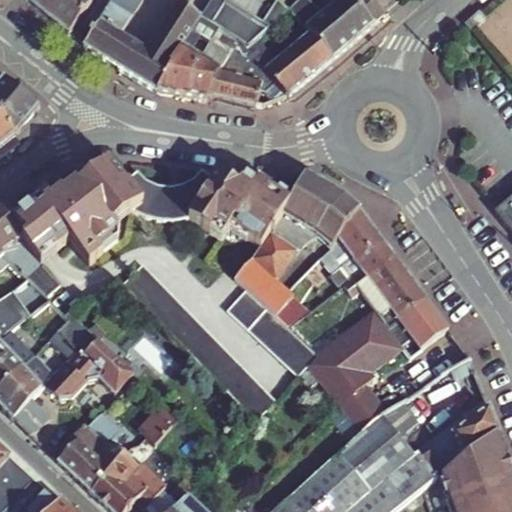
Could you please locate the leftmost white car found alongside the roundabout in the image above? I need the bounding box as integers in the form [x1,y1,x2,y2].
[309,118,330,132]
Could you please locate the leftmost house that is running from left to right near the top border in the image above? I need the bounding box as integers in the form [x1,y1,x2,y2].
[20,0,100,38]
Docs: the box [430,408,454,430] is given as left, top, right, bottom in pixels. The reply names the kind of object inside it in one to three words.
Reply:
truck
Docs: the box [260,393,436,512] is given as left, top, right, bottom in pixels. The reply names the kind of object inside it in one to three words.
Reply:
building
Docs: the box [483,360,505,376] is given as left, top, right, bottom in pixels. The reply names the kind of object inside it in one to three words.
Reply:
car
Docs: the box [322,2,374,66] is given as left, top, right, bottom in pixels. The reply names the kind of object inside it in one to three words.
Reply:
house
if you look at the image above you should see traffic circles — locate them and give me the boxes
[324,70,438,183]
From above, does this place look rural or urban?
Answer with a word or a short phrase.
urban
